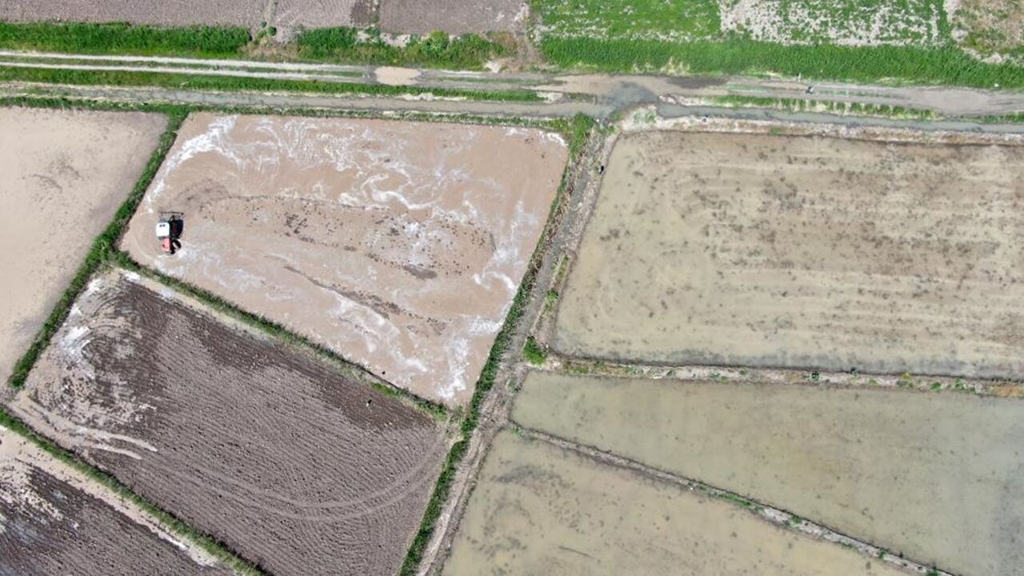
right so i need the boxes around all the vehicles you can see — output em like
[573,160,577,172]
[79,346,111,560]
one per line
[156,222,180,255]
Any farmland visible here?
Yes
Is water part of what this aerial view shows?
Yes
